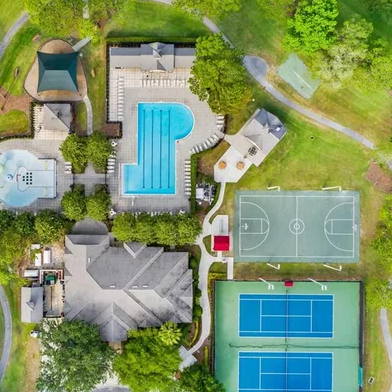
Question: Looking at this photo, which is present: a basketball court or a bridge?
basketball court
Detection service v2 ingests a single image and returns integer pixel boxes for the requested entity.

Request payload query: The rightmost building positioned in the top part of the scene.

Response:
[242,108,287,153]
